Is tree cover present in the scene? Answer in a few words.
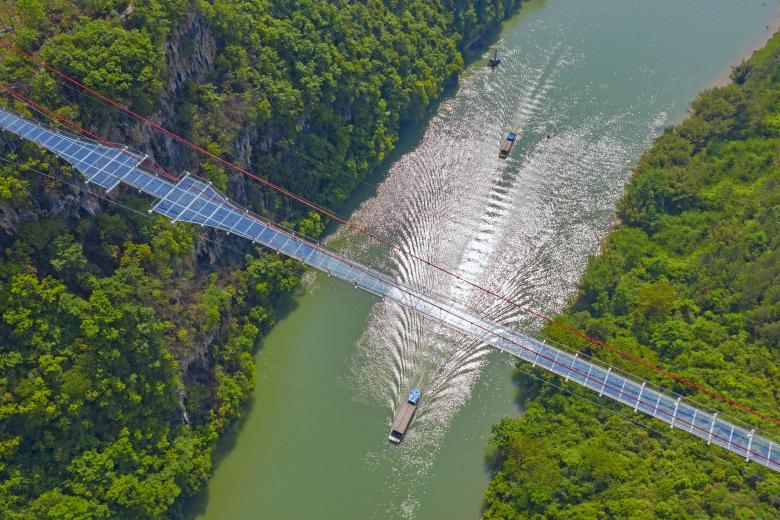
Yes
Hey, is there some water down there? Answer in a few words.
Yes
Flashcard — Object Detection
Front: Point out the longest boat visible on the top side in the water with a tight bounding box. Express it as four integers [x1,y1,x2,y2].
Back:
[499,130,516,158]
